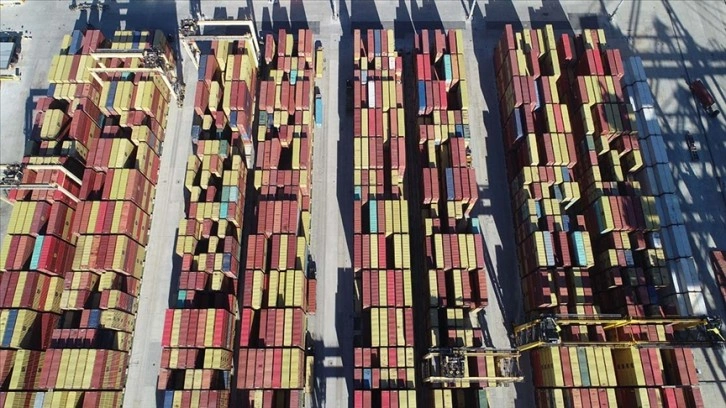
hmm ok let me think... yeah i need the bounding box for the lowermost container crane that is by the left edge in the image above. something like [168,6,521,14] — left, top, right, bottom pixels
[0,162,83,205]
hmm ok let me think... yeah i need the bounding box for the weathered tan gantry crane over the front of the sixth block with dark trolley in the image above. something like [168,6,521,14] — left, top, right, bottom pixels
[414,347,523,387]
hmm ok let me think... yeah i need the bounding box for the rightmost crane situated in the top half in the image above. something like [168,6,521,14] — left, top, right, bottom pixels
[178,14,265,76]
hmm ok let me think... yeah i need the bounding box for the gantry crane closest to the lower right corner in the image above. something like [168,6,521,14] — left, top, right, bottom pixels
[603,314,726,351]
